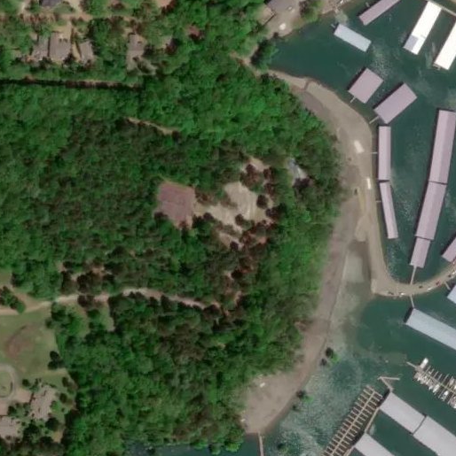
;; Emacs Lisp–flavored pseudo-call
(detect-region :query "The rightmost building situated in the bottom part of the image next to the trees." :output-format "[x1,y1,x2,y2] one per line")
[30,382,59,419]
